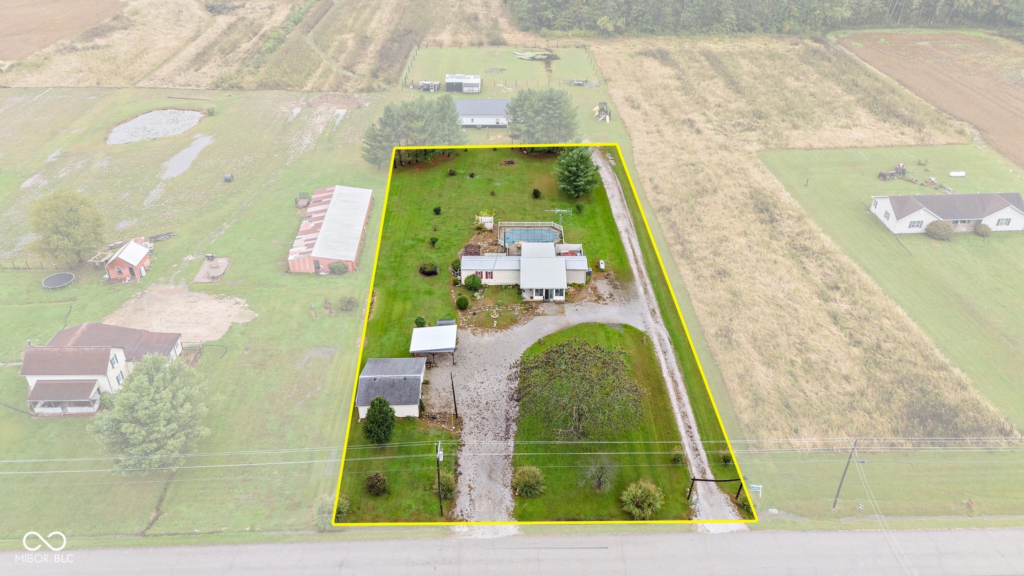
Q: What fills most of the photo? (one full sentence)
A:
What you mostly see from above here is grass.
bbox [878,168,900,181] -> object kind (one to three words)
vehicle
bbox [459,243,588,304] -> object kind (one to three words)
house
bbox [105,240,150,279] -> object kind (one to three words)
shed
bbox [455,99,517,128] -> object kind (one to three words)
house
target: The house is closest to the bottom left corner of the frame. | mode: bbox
[20,321,182,414]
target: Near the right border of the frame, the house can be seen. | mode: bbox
[873,189,1024,234]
